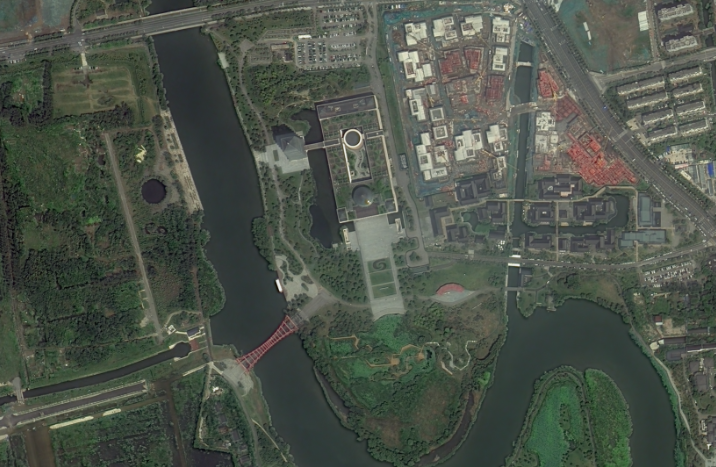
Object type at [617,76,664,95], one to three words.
building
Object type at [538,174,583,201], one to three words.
house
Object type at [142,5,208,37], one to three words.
bridge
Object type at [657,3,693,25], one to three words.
building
